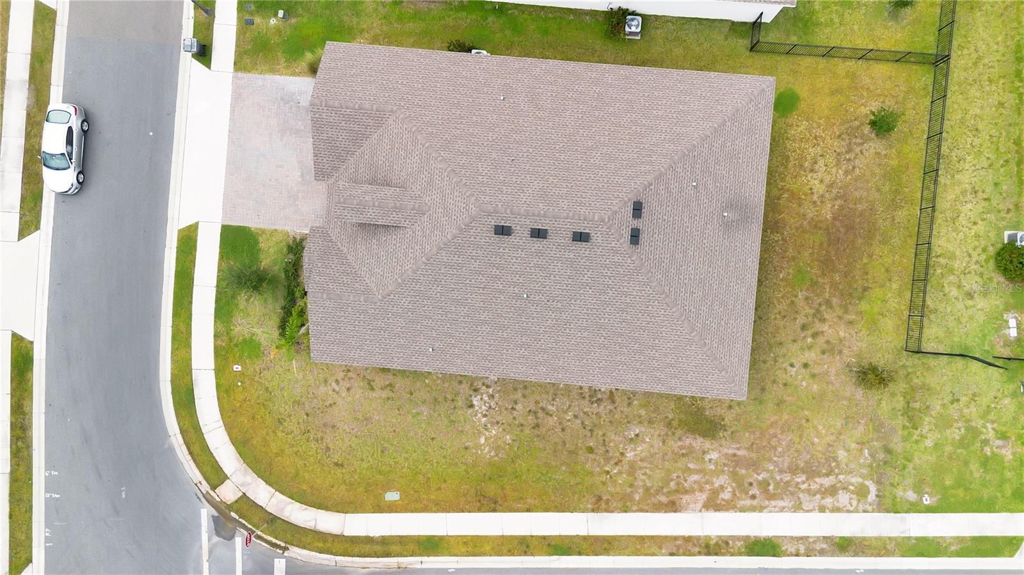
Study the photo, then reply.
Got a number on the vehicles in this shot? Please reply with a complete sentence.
The picture shows just 1 vehicle.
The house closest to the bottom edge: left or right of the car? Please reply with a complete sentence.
The house closest to the bottom edge is to the right of the car.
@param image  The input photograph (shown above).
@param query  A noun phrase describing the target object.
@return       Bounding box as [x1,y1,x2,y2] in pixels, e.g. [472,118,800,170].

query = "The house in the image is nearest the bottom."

[302,40,776,402]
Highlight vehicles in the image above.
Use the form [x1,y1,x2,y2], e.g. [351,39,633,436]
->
[33,103,88,193]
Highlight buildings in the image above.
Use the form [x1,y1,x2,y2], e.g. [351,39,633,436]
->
[503,0,798,22]
[302,40,776,402]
